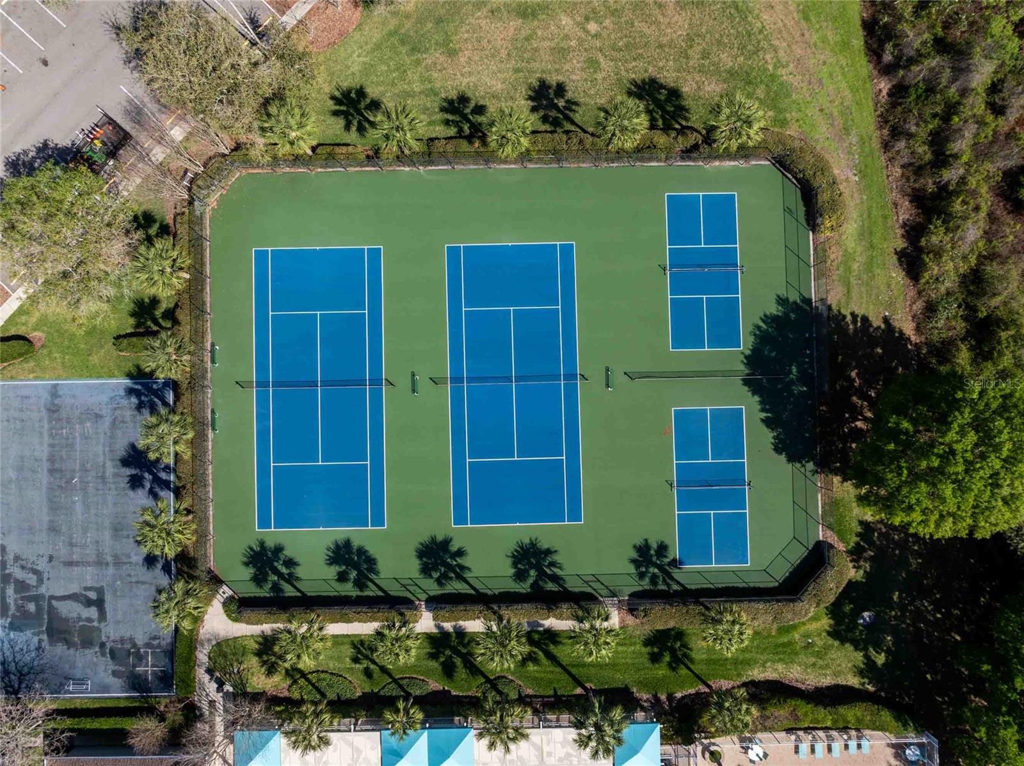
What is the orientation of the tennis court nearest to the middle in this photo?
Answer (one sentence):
The tennis court nearest to the middle is oriented up and down.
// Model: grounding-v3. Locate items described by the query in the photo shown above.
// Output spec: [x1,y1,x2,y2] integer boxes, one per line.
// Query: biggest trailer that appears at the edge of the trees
[59,109,124,176]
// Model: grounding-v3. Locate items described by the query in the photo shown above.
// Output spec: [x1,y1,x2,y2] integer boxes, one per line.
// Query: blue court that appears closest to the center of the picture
[446,242,583,526]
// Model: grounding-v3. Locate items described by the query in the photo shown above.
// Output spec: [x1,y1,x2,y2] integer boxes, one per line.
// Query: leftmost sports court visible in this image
[0,380,175,697]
